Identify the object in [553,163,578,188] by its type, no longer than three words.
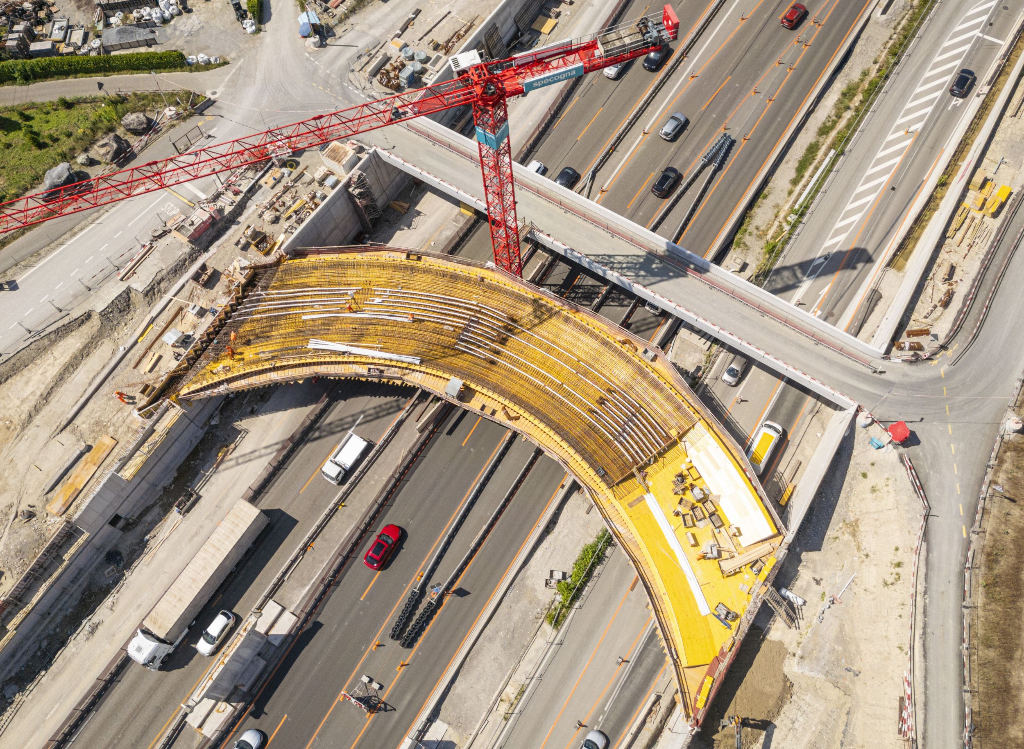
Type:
car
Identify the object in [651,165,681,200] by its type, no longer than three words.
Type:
car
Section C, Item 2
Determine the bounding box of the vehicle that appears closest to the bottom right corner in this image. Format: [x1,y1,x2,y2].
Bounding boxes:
[706,693,736,749]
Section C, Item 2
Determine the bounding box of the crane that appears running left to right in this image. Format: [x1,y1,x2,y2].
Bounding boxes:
[0,0,691,282]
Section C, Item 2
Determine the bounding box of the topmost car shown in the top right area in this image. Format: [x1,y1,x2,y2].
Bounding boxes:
[781,2,805,29]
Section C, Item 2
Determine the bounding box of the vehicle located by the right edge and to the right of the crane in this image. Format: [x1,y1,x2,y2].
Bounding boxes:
[949,68,976,100]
